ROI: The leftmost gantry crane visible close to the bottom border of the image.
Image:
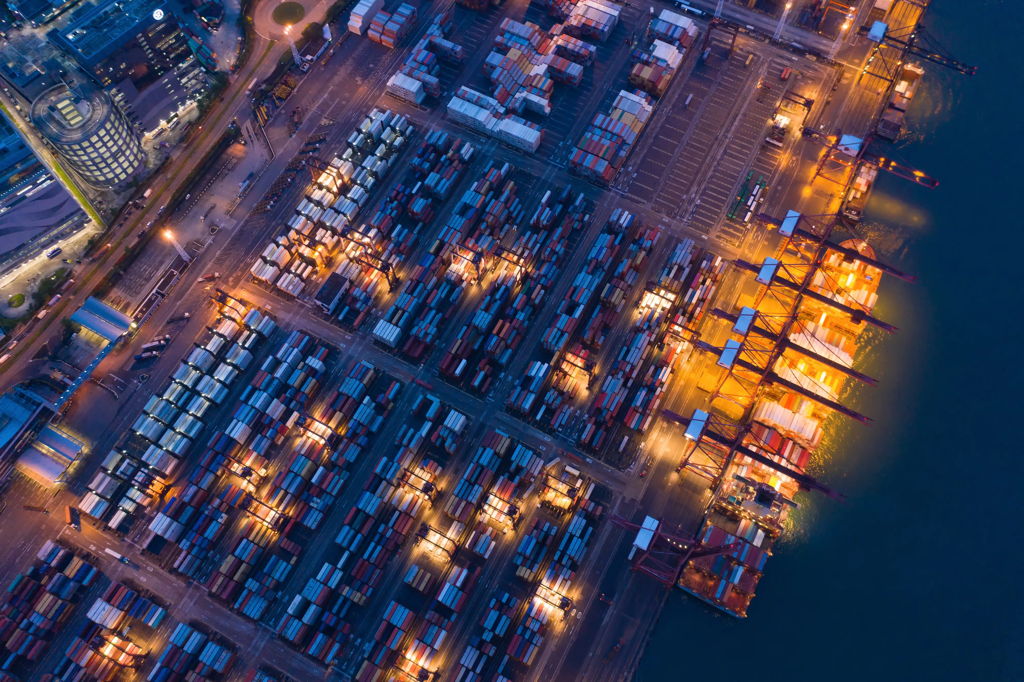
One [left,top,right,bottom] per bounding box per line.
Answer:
[92,635,148,673]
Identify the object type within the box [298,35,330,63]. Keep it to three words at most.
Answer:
building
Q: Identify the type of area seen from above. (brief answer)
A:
port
